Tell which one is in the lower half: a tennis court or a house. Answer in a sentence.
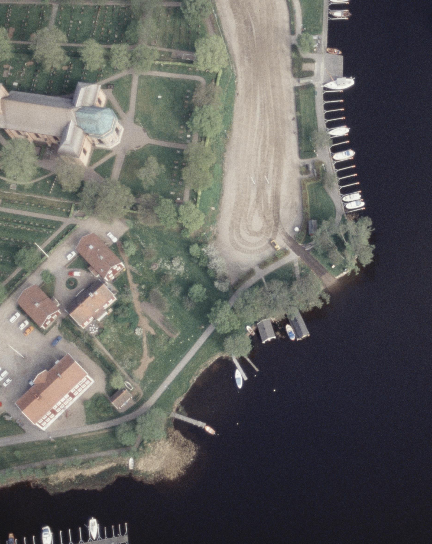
The one visible in the lower half is a house.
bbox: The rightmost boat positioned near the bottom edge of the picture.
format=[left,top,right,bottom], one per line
[86,518,98,539]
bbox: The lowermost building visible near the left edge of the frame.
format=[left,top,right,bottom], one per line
[15,353,94,431]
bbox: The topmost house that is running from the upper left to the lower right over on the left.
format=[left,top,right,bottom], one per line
[76,233,124,280]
